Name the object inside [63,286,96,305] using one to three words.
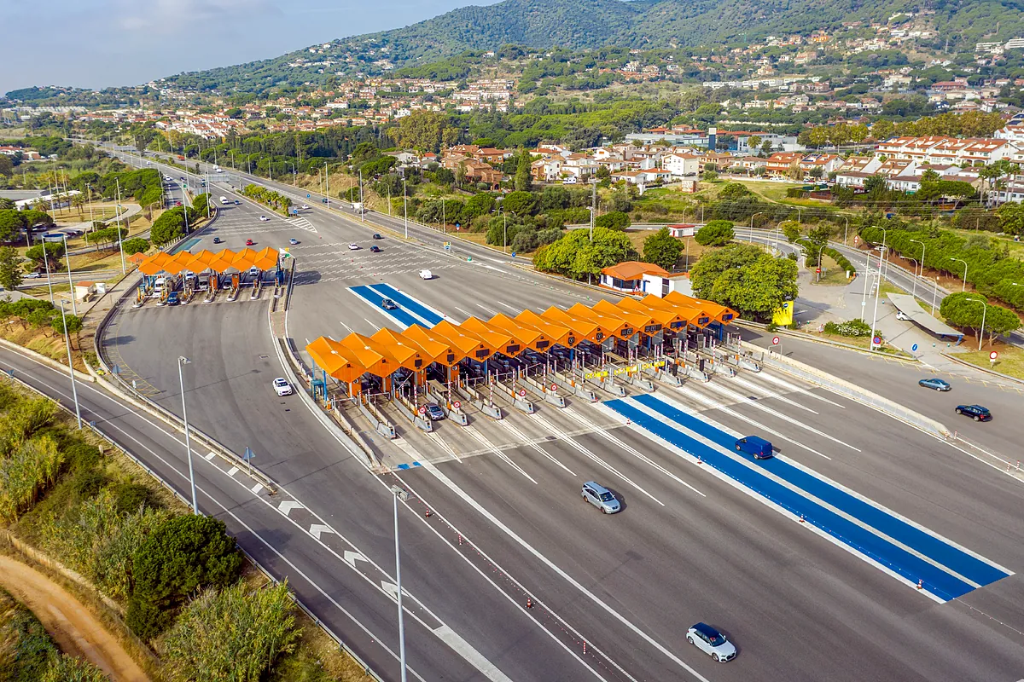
shed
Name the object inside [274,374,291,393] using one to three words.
car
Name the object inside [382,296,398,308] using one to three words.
vehicle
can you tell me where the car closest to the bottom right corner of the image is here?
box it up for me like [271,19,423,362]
[955,401,995,420]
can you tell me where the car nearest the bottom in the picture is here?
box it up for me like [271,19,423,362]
[684,619,738,659]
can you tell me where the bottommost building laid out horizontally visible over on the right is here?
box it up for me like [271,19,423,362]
[591,262,684,299]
